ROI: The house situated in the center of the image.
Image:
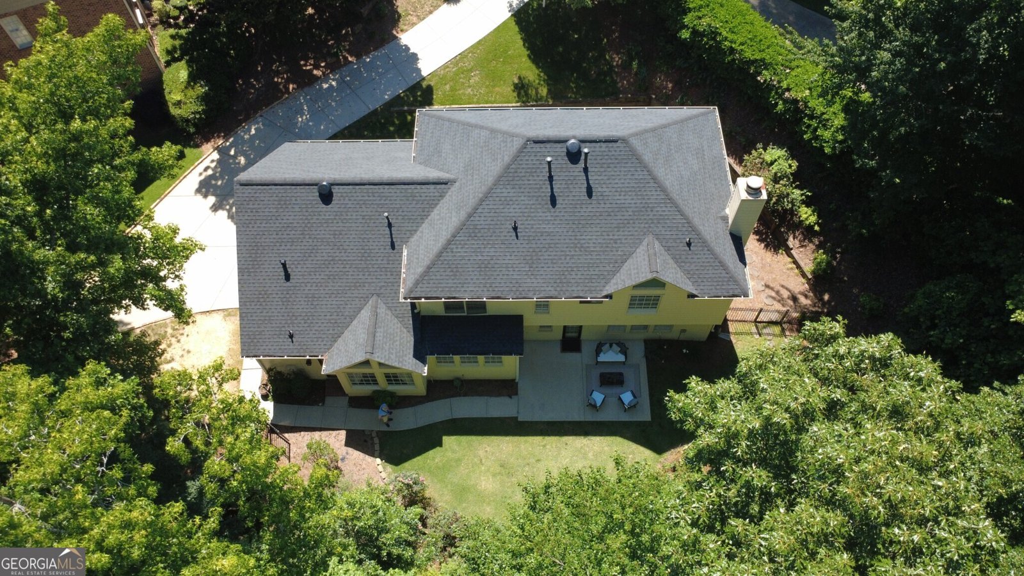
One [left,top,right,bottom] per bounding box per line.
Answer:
[236,106,768,395]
